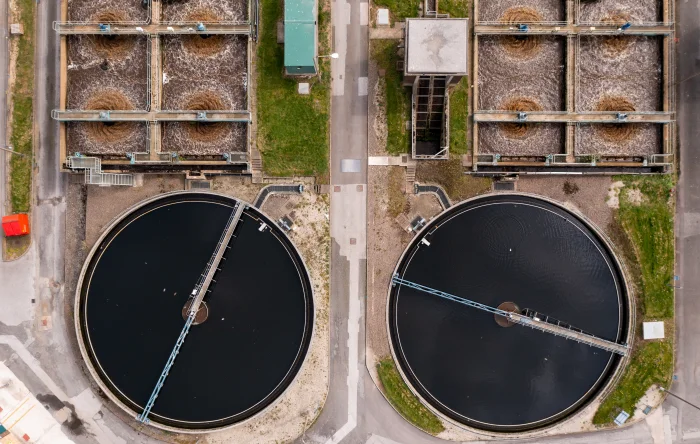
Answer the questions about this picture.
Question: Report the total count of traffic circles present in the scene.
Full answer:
The photo contains no traffic circles.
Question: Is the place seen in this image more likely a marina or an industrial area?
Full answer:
The picture captures an industrial area.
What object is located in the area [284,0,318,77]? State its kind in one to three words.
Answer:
shed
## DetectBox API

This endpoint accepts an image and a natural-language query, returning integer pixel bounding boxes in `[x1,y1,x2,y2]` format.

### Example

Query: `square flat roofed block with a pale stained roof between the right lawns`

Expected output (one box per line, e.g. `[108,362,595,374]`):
[402,18,468,83]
